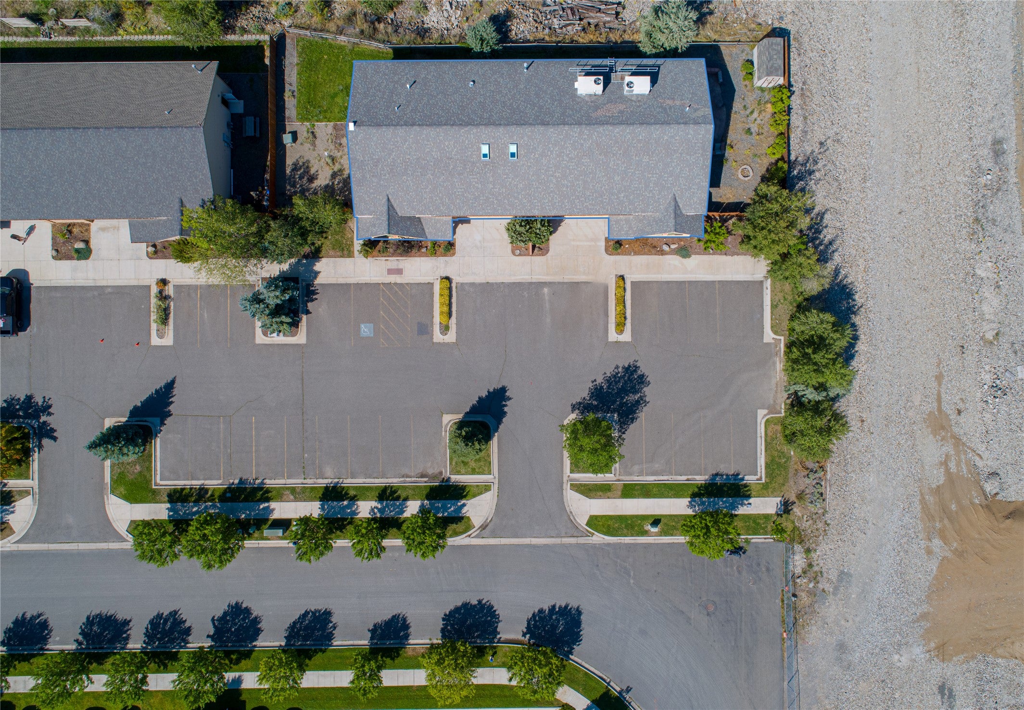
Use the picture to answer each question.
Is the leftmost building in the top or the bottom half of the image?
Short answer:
top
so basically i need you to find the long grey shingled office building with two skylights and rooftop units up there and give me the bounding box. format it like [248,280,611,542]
[346,51,714,241]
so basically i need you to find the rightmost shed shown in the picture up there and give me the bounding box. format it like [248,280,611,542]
[754,29,791,85]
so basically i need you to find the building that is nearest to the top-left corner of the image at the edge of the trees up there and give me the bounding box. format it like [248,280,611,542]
[0,60,246,241]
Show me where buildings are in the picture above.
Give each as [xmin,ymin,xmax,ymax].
[754,29,791,85]
[0,60,246,241]
[346,51,714,241]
